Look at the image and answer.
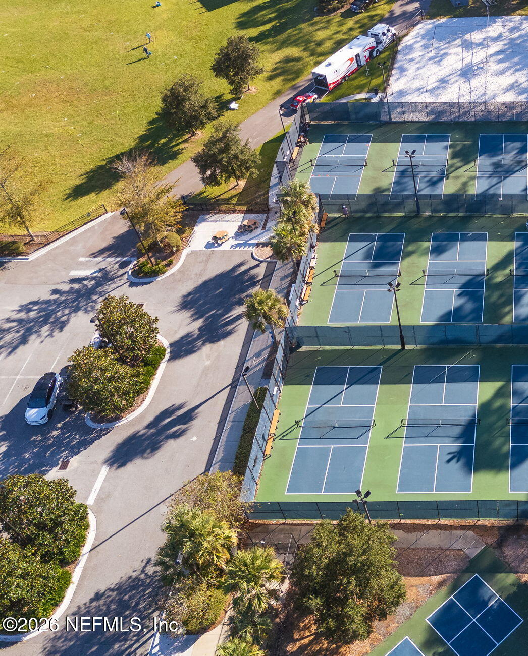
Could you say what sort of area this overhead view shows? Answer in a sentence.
It's a sports ground.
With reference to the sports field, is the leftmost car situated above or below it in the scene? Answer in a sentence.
In the image, the leftmost car sits below the sports field.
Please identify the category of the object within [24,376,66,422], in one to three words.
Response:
car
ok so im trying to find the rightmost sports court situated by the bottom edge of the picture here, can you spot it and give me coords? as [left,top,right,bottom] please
[425,574,524,656]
